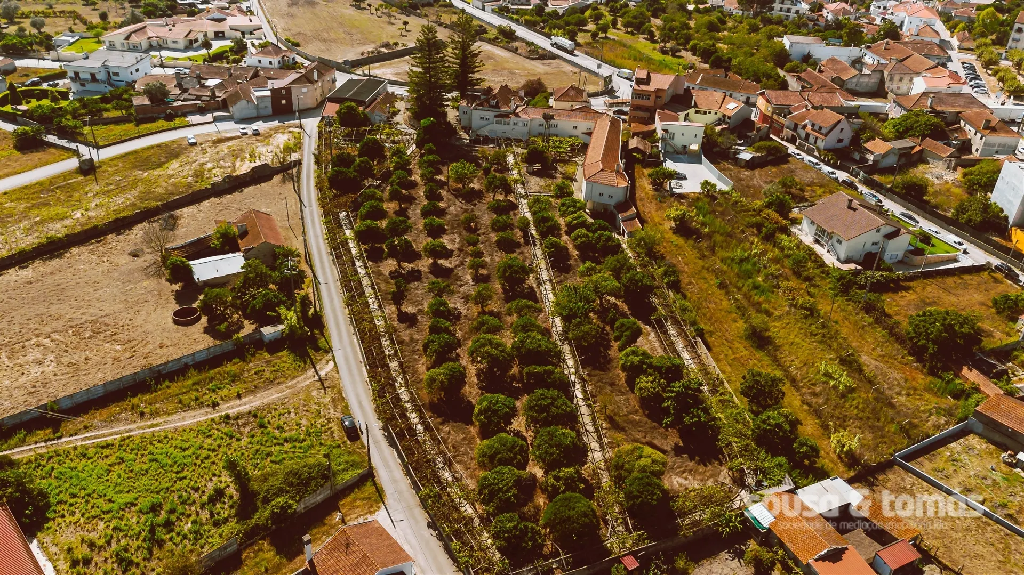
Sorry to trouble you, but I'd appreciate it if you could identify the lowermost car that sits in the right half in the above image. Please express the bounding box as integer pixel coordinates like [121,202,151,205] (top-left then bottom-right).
[992,263,1022,281]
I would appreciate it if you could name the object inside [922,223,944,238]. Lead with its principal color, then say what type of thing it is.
white car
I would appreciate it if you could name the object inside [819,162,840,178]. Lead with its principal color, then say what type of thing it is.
white vehicle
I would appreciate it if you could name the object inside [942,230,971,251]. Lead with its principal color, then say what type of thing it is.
white vehicle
